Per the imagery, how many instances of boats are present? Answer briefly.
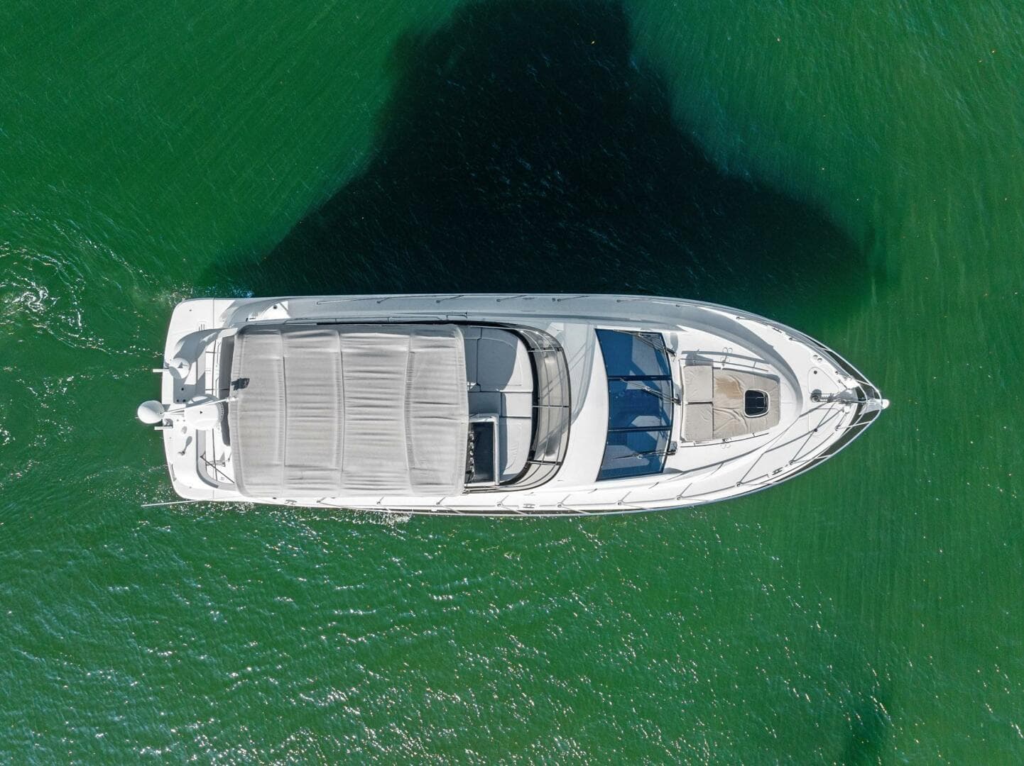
1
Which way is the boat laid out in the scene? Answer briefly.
from left to right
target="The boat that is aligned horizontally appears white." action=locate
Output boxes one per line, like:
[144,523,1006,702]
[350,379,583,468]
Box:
[133,293,893,517]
